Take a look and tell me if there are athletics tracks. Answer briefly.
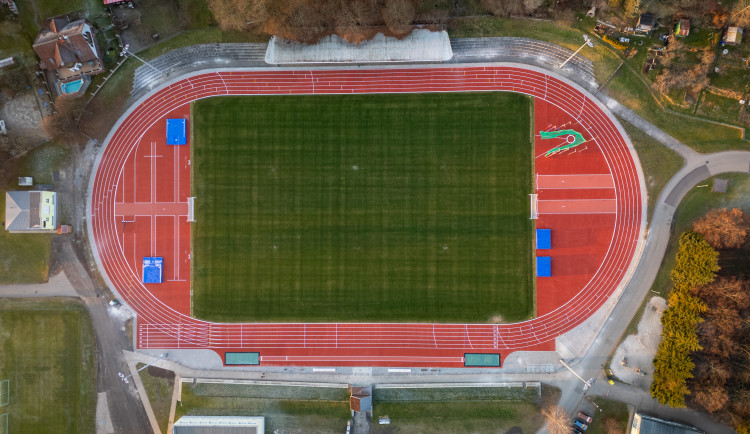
Yes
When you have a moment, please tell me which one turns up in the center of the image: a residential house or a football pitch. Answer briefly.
football pitch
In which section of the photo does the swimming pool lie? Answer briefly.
top left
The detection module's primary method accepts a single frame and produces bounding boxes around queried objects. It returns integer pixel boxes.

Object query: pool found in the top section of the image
[55,77,91,100]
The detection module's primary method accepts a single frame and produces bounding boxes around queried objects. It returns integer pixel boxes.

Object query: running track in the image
[92,67,641,367]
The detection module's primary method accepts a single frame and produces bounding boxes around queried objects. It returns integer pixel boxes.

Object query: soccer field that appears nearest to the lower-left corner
[0,310,82,434]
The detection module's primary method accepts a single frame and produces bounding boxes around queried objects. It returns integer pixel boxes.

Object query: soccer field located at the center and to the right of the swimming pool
[190,91,536,324]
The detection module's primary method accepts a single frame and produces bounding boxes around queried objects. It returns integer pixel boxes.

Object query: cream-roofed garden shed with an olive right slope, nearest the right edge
[721,28,742,47]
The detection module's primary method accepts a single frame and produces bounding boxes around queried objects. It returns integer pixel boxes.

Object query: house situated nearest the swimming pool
[33,18,106,81]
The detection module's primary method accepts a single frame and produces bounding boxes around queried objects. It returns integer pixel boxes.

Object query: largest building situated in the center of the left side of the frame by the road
[4,191,58,232]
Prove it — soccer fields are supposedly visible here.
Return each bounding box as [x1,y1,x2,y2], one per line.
[0,310,82,434]
[190,91,536,324]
